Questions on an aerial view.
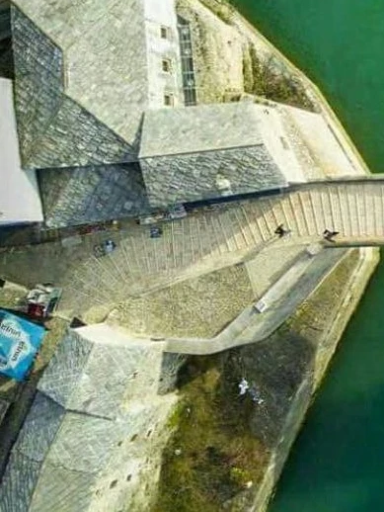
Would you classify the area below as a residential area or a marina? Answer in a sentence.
It's a residential area.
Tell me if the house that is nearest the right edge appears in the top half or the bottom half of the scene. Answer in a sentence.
The house that is nearest the right edge is in the top half of the image.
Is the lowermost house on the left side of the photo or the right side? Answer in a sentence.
It is on the left.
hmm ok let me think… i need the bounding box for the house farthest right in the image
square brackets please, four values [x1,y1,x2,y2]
[139,99,315,208]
